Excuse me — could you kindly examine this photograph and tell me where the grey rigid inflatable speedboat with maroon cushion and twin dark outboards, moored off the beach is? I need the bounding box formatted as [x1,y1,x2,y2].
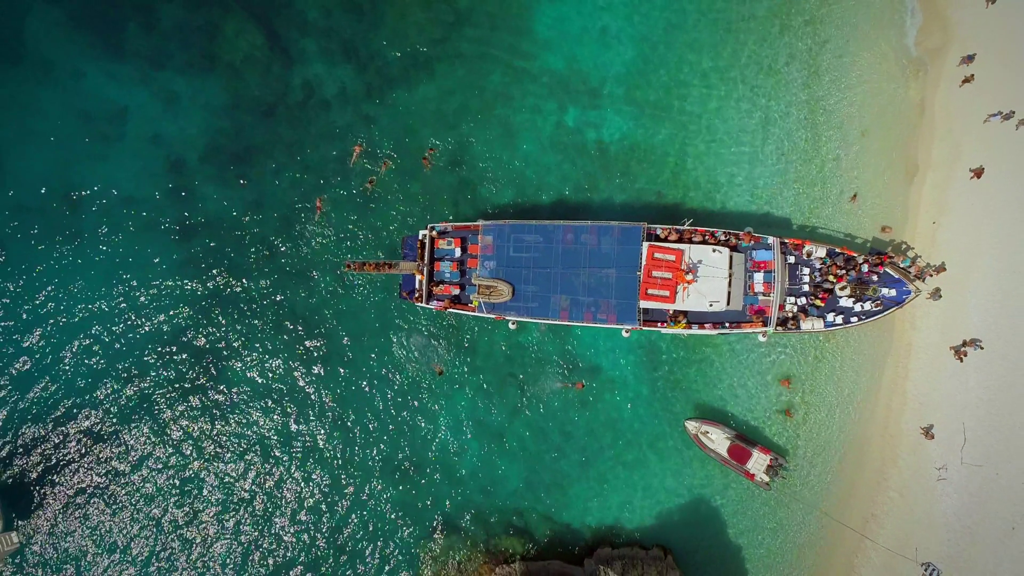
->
[685,421,784,490]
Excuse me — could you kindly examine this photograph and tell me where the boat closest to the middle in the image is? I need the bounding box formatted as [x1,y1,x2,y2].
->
[471,278,513,302]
